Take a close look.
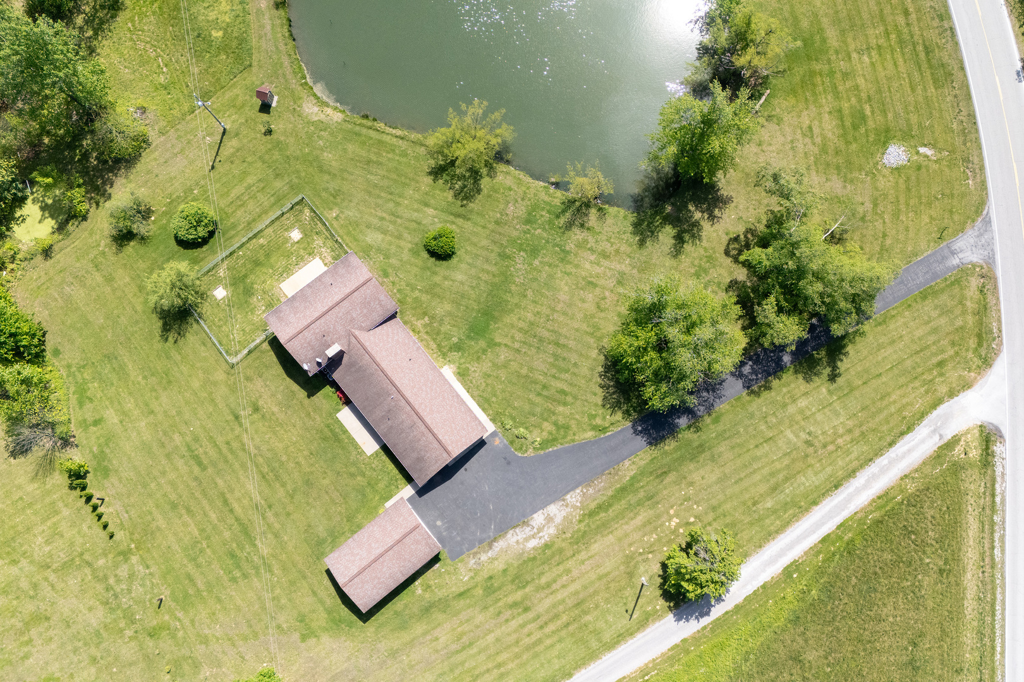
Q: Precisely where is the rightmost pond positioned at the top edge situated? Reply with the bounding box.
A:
[287,0,724,212]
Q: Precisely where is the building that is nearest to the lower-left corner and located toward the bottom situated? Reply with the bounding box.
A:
[324,497,442,613]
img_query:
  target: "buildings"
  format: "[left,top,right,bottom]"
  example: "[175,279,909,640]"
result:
[265,250,488,488]
[324,497,442,613]
[255,87,274,104]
